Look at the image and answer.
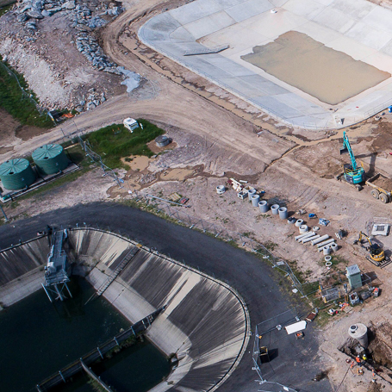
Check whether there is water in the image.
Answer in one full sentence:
Yes, water shows up in the scene.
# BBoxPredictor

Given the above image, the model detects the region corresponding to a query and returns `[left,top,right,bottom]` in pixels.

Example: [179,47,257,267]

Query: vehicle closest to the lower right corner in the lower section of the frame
[360,229,386,270]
